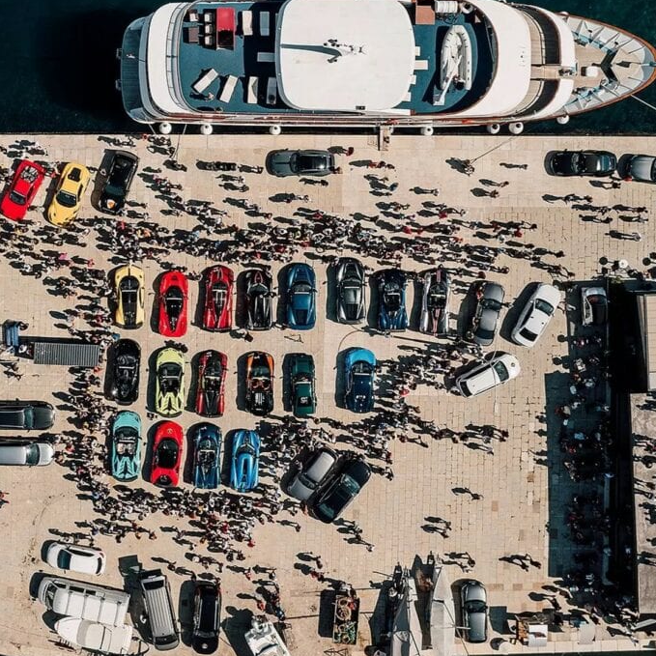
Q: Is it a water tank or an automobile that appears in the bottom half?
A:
automobile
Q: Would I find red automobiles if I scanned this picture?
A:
Yes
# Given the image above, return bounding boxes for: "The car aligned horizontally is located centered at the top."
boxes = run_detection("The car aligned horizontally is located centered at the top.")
[266,145,336,179]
